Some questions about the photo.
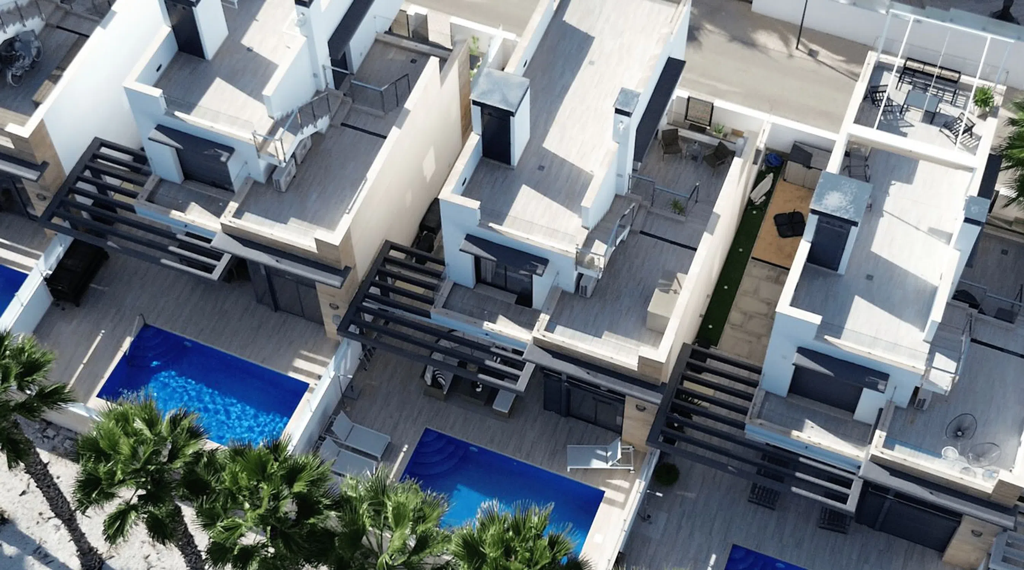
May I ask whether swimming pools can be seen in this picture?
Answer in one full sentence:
Yes, this view includes a swimming pool.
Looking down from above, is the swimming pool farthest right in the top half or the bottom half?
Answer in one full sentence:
The bottom half of the photo is where the swimming pool farthest right is.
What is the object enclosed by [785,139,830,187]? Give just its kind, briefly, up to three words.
building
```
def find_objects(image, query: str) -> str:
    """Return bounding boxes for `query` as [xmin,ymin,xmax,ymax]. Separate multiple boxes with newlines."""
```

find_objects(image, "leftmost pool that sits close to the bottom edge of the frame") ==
[387,426,607,570]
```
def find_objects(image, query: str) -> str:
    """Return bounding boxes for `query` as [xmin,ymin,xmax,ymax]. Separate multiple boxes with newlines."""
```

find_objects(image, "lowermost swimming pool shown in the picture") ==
[723,542,821,570]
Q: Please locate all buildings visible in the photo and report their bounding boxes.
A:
[122,0,473,333]
[744,6,1024,564]
[431,0,760,446]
